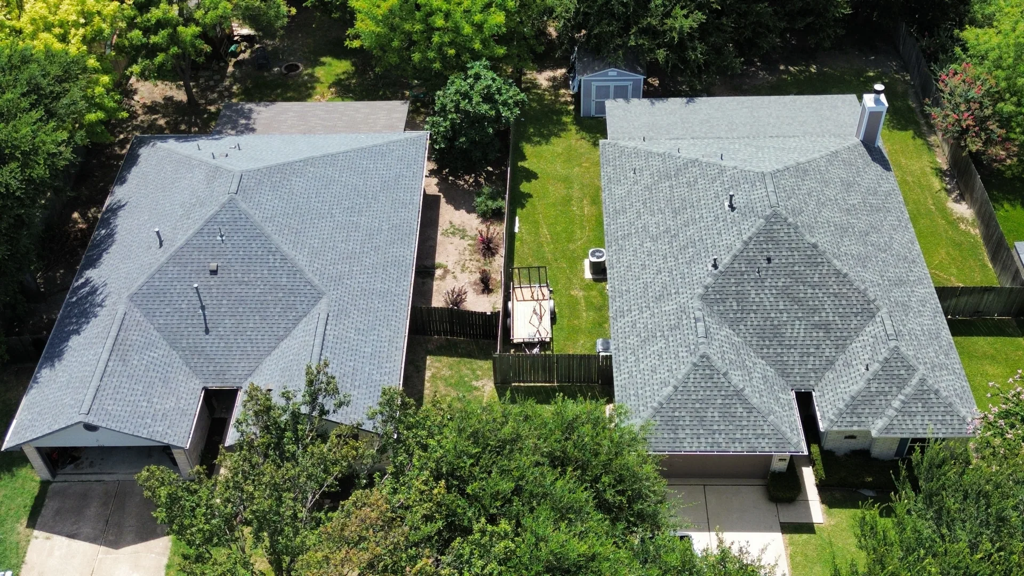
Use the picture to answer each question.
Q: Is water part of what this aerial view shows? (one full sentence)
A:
No, there is no water in the image.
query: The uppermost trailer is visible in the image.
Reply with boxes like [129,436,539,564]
[505,266,559,361]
